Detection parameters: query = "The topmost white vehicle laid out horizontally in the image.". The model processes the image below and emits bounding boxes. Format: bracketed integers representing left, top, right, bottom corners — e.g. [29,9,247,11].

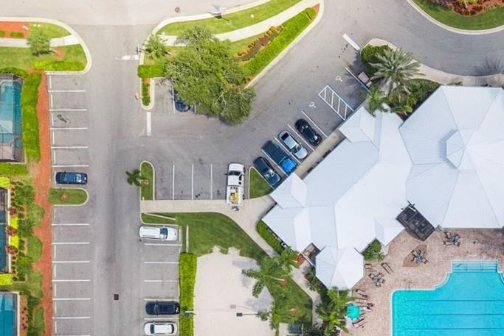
[141,226,178,242]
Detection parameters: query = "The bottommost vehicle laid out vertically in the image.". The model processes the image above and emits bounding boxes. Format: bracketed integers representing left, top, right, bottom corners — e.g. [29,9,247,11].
[226,165,246,206]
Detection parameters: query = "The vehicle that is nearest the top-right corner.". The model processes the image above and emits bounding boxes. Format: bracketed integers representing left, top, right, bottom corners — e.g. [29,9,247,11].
[295,116,323,147]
